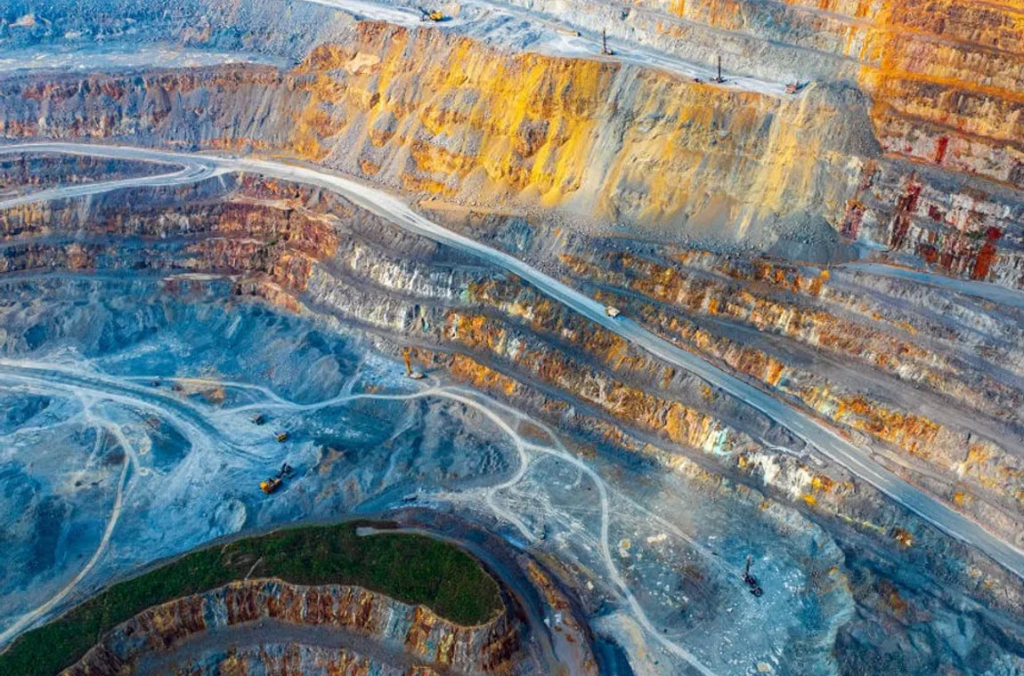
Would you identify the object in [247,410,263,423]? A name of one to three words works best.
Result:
vehicle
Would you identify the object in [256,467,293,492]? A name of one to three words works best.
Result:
work vehicle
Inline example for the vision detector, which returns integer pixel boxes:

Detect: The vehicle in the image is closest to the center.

[605,303,620,315]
